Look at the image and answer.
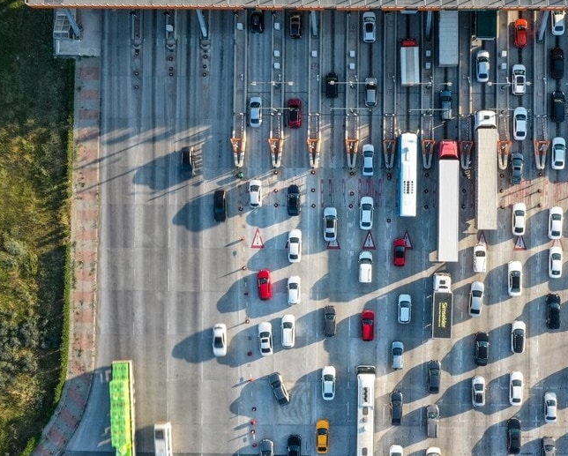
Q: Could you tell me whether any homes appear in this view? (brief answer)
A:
No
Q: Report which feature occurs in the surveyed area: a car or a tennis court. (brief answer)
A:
car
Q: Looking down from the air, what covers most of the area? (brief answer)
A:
paved ground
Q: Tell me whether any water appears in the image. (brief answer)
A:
No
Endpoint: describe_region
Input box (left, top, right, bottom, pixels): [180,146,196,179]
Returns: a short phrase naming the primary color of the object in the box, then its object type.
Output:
black car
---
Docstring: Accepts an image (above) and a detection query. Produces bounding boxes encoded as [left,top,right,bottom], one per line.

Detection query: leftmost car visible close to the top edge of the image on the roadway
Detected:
[249,9,266,34]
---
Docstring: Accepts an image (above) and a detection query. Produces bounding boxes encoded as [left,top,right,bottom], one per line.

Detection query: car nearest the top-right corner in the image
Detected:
[550,9,566,37]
